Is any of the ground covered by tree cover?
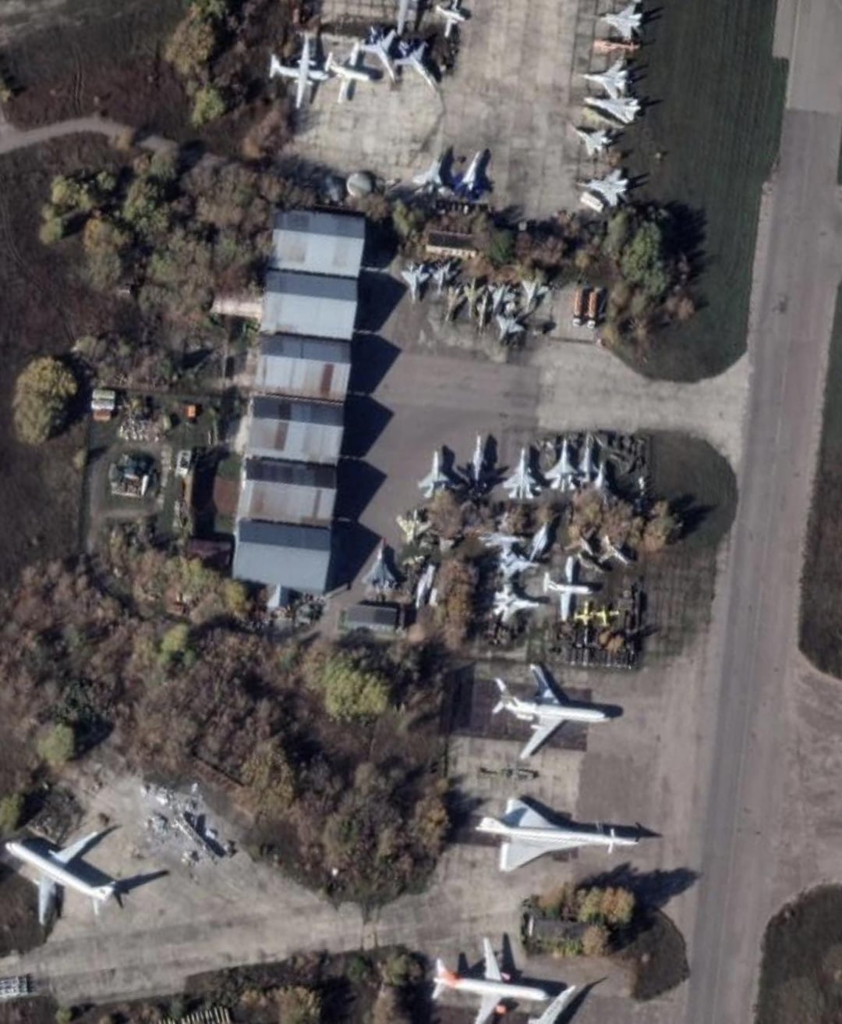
Yes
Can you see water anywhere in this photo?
No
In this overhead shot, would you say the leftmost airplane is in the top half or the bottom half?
bottom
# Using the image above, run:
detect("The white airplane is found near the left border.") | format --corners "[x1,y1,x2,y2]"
[6,833,115,918]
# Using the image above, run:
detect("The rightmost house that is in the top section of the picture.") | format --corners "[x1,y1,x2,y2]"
[426,230,478,256]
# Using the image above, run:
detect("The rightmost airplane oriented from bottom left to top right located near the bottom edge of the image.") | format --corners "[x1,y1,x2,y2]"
[519,981,578,1024]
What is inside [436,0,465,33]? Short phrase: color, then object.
white airplane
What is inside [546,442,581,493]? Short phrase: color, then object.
white airplane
